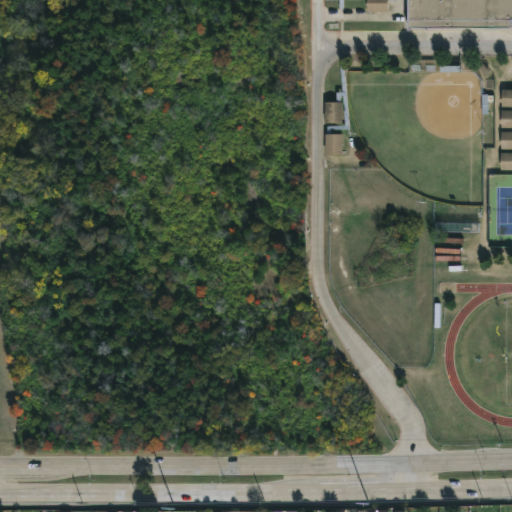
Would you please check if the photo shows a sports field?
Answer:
Yes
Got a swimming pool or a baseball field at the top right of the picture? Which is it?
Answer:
baseball field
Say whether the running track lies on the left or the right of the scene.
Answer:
right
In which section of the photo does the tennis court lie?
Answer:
right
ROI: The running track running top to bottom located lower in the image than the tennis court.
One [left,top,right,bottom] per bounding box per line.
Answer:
[444,282,512,427]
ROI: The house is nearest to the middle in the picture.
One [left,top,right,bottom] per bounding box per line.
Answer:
[325,134,343,157]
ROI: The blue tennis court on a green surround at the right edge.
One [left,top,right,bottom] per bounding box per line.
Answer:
[490,174,512,247]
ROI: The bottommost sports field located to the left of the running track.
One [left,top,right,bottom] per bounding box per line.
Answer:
[330,169,433,366]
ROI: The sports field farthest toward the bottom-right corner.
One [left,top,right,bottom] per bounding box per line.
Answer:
[456,294,512,416]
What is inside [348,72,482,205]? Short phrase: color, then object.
green baseball field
